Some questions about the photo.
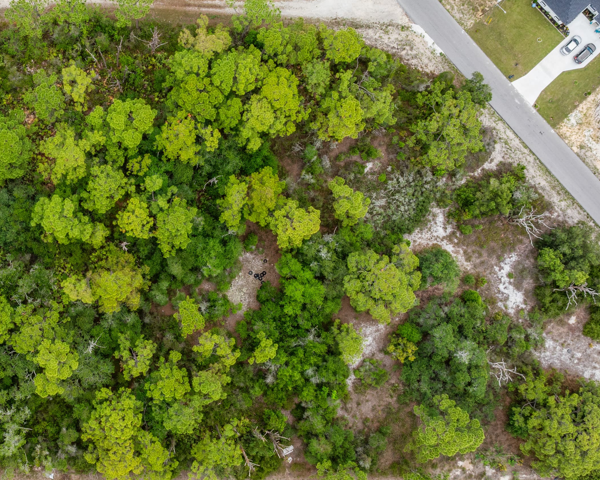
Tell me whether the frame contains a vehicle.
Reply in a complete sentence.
Yes, there is a vehicle in the image.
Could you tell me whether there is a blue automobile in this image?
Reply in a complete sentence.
No, no blue automobile can be seen from above.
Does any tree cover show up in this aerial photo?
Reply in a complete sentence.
Yes, some tree cover is visible.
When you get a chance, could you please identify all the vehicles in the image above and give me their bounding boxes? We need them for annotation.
[562,35,583,55]
[575,42,597,64]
